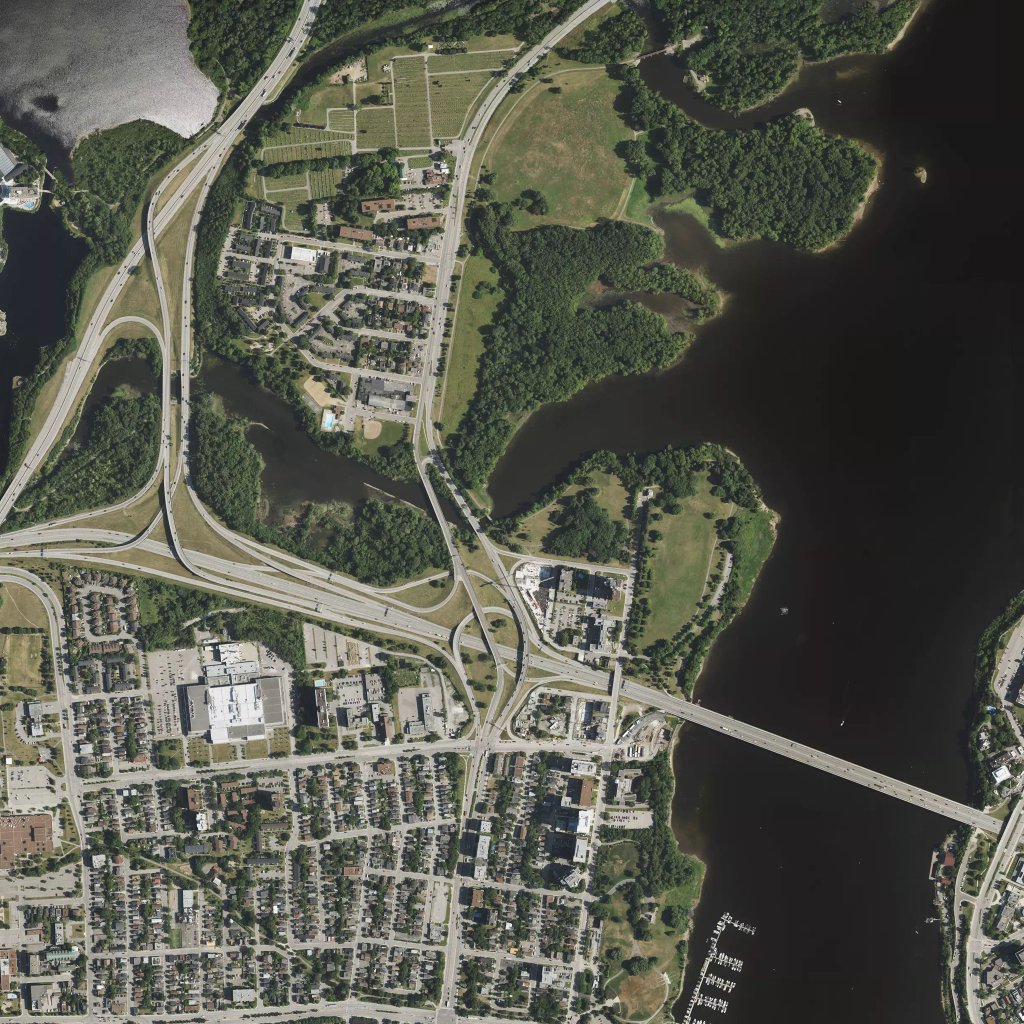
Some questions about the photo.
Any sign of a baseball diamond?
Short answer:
Yes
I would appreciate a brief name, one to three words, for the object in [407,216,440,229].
building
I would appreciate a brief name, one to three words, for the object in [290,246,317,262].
building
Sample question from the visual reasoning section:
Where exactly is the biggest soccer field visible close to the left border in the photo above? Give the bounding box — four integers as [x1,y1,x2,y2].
[7,633,42,686]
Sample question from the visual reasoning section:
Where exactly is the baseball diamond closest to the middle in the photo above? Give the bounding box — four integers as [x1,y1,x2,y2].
[355,418,412,453]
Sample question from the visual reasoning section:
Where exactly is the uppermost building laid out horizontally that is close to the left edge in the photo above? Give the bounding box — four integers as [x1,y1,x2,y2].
[8,185,39,198]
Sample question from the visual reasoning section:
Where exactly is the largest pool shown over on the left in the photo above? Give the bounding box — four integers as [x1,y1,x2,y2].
[321,409,336,432]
